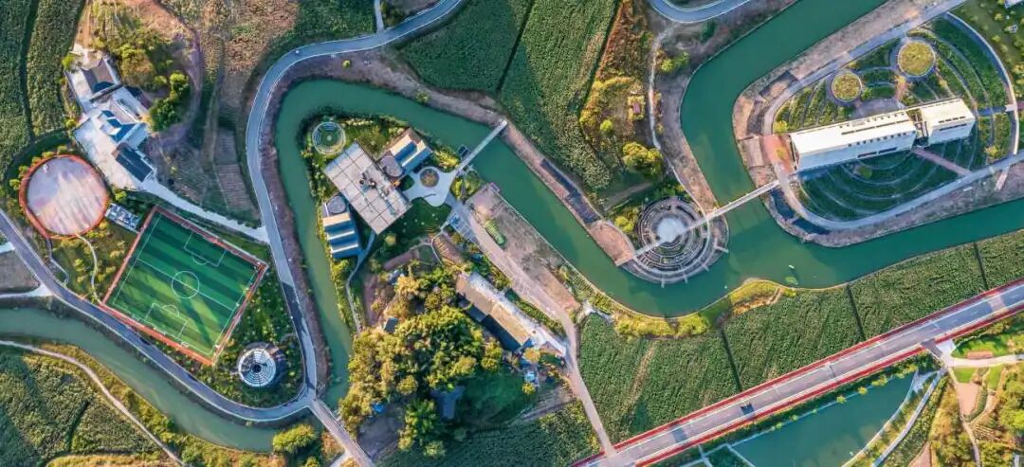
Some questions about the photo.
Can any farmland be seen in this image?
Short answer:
Yes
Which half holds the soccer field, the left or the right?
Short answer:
left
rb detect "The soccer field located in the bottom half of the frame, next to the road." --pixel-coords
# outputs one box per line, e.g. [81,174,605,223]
[103,207,268,365]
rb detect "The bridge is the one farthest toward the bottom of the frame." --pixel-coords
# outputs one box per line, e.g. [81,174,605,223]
[304,395,376,467]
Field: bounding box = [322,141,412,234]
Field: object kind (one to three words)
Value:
building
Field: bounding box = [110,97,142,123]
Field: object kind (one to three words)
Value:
house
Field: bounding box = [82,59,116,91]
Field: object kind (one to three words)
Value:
house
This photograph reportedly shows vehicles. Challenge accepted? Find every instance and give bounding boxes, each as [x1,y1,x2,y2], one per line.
[187,373,198,382]
[739,405,754,415]
[293,48,301,54]
[139,337,150,346]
